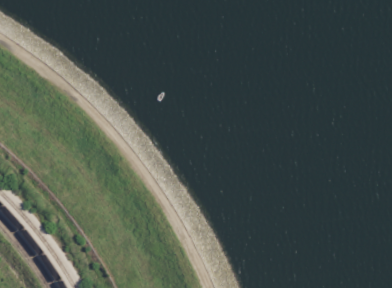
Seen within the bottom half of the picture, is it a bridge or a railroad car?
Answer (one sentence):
What appears within the bottom half of the picture is a railroad car.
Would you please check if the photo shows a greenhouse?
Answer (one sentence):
No, no greenhouse is visible in the scene.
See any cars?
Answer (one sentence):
No, no car is visible in the view.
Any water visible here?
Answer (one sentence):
Yes, water can be seen from above here.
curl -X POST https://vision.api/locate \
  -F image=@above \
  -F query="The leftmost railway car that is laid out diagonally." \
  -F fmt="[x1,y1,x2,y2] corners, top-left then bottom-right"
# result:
[0,206,24,232]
